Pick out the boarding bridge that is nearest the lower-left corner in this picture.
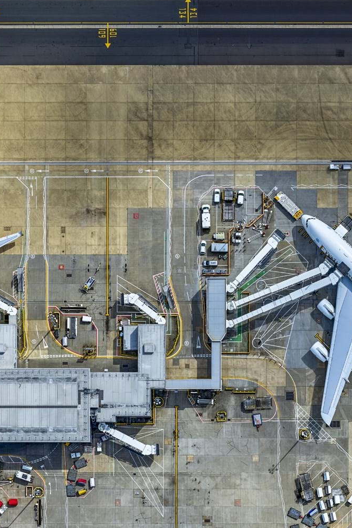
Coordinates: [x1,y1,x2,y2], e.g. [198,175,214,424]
[97,423,158,455]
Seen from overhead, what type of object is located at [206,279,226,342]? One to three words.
building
